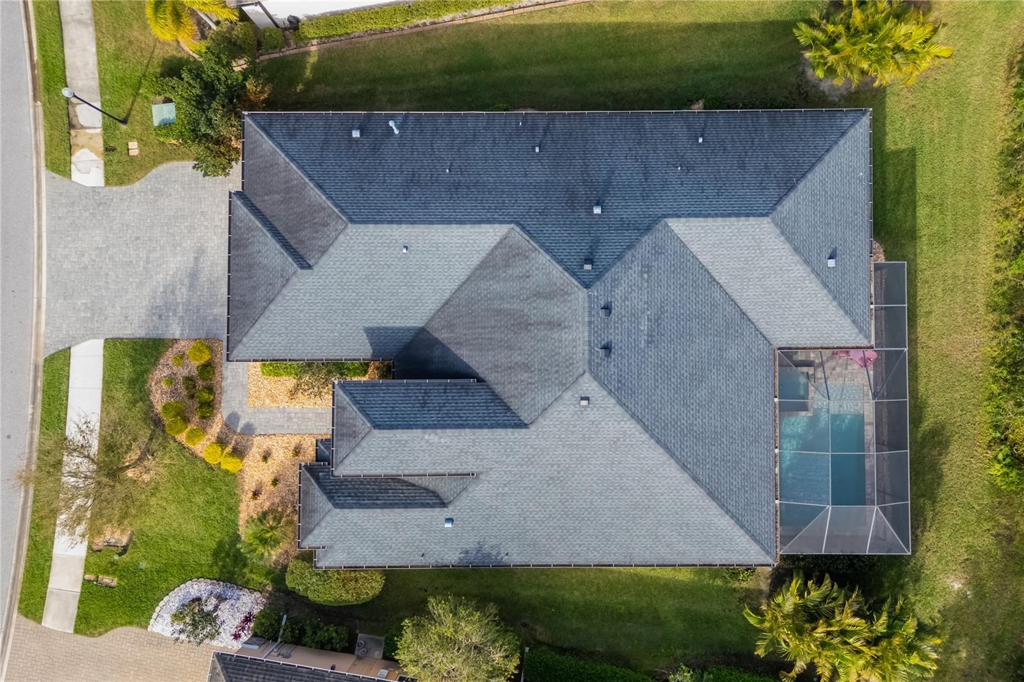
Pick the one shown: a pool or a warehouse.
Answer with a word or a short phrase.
pool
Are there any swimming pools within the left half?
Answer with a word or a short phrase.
No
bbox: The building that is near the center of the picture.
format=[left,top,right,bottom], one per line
[225,108,875,569]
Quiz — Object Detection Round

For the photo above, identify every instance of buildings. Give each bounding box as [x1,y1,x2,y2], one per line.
[225,108,875,569]
[229,0,411,30]
[206,615,440,682]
